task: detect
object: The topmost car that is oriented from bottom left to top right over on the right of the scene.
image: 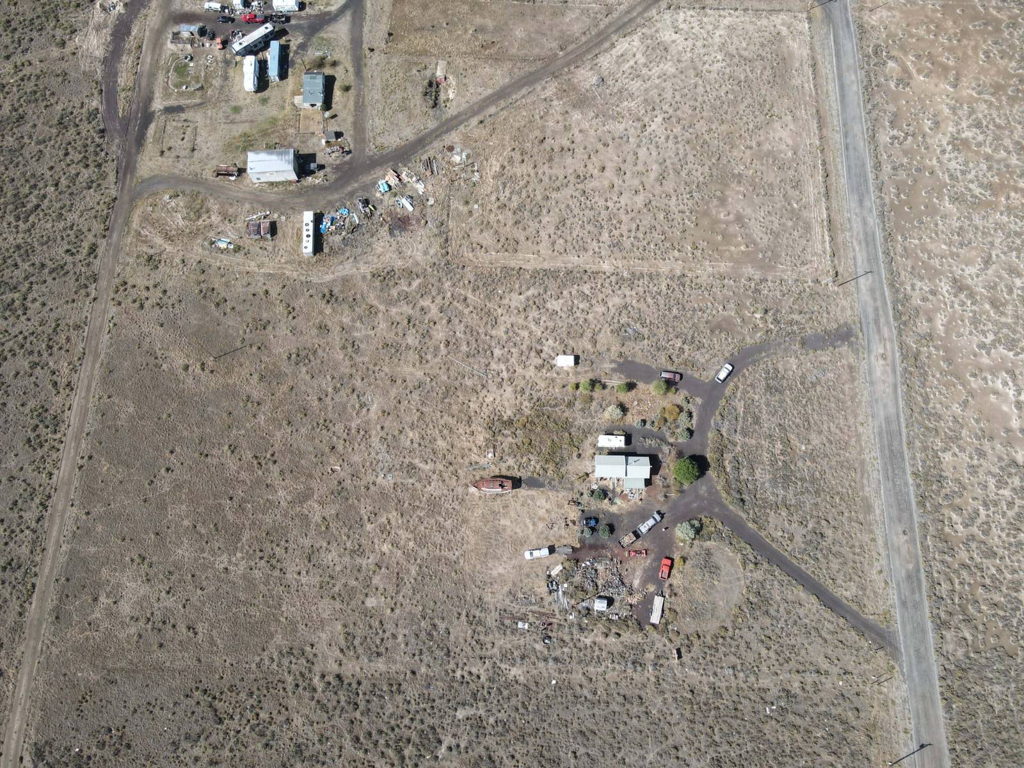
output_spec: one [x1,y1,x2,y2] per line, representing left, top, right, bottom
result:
[714,363,733,385]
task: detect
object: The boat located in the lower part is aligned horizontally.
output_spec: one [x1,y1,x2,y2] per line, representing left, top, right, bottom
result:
[470,477,512,493]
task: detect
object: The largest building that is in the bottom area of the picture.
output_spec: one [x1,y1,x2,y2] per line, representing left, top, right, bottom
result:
[594,455,652,490]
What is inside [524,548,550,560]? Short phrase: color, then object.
white vehicle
